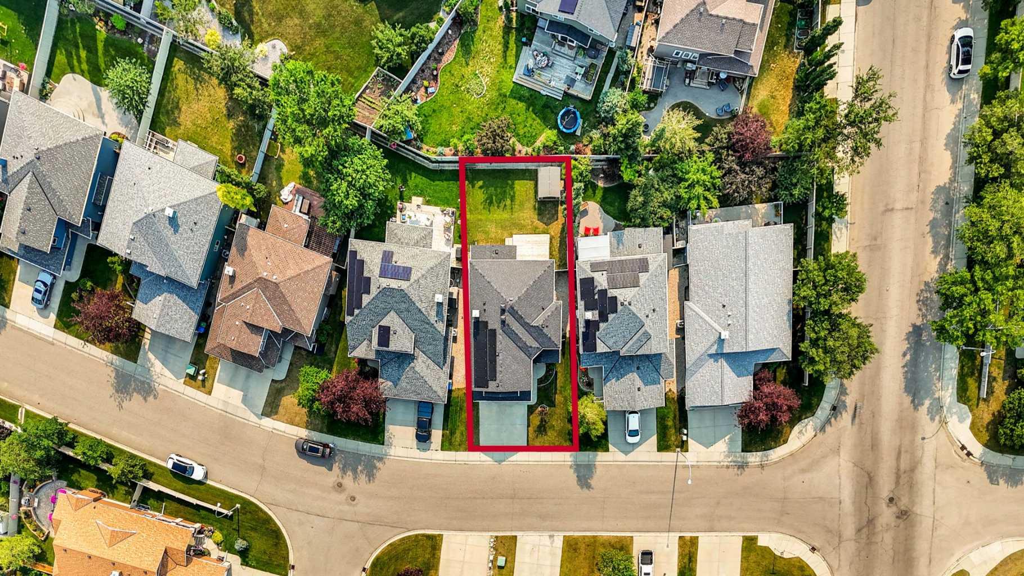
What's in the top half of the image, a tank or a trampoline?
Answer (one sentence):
The one visible in the top half of the image is a trampoline.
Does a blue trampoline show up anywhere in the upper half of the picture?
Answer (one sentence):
Yes, looking in the upper half of the picture, one can make out a blue trampoline.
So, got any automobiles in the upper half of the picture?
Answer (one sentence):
Yes, an automobile shows up in the upper half of the picture.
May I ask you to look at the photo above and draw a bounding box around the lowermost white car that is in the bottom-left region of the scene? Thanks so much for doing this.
[164,453,207,482]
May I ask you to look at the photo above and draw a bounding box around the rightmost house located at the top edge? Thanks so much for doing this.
[653,0,775,78]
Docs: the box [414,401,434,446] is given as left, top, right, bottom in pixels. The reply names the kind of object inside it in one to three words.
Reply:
vehicle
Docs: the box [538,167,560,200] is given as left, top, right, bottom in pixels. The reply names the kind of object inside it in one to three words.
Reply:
shed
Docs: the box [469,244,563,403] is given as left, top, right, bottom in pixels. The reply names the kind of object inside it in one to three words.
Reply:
house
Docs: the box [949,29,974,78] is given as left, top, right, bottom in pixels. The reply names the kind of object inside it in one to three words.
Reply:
car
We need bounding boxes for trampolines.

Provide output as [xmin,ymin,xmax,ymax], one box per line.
[557,106,583,135]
